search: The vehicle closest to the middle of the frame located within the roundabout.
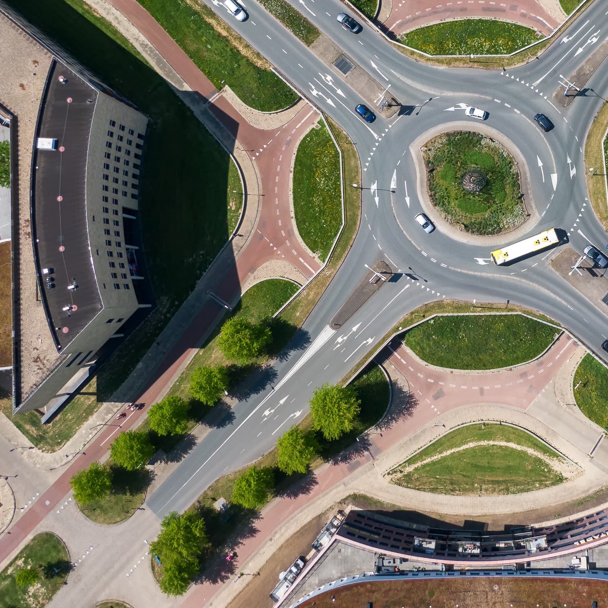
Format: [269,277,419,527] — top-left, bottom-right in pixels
[413,210,436,235]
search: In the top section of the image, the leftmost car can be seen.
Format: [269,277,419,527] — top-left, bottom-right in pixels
[224,0,248,22]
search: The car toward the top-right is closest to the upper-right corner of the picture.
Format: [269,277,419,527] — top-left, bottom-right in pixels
[531,111,554,133]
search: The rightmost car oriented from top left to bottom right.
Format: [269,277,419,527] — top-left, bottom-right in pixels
[583,243,608,270]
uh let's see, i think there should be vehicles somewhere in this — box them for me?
[353,102,376,124]
[224,0,248,22]
[583,243,608,270]
[335,11,360,36]
[600,338,608,353]
[463,106,489,122]
[490,224,562,264]
[413,210,436,235]
[531,111,554,133]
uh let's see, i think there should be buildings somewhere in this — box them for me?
[0,0,153,424]
[257,501,608,608]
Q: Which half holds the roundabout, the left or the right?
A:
right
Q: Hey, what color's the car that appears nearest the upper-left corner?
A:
white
